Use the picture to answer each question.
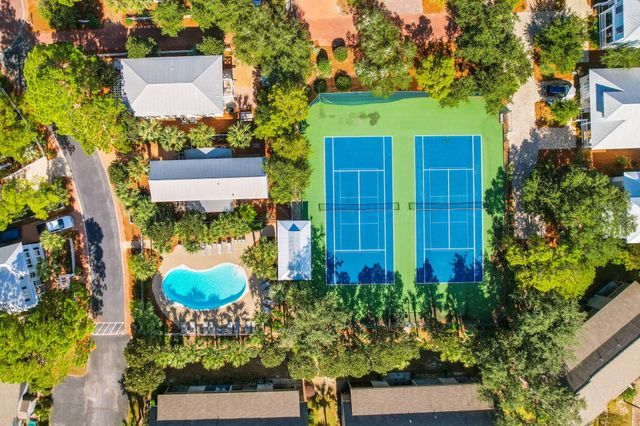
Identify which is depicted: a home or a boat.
home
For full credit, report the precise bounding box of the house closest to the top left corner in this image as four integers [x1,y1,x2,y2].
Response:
[121,57,238,119]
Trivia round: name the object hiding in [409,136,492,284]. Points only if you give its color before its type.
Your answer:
blue tennis court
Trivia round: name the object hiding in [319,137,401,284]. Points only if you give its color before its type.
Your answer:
blue tennis court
